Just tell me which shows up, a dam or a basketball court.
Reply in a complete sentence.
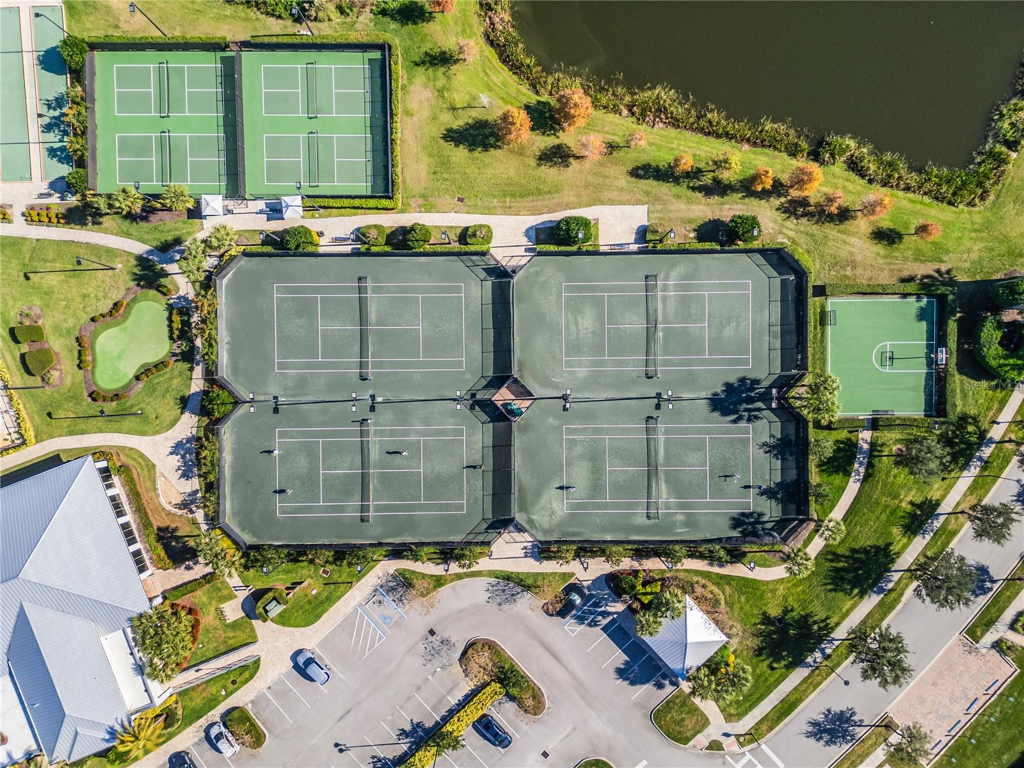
Visible in the photo is a basketball court.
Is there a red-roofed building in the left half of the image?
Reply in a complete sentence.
No, in the left half of the image there is no red-roofed building.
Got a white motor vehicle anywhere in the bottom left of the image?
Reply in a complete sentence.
Yes, a white motor vehicle can be seen in the bottom left of the image.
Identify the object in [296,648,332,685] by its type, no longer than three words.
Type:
car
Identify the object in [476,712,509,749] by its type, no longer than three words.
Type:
car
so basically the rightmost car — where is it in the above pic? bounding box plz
[555,585,591,620]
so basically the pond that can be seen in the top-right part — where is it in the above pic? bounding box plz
[509,0,1024,182]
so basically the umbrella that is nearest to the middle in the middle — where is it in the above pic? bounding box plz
[507,402,522,417]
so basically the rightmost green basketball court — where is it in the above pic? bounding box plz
[827,297,936,417]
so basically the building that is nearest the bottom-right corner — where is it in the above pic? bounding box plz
[642,592,729,680]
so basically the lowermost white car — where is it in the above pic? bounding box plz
[207,721,240,759]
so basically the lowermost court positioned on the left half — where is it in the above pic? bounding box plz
[225,399,515,545]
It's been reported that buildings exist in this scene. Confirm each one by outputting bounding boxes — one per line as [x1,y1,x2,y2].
[642,592,729,680]
[0,454,171,766]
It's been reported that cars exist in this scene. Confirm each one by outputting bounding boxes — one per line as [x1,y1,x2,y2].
[296,648,332,685]
[207,721,240,759]
[555,585,591,620]
[476,712,509,749]
[170,749,198,768]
